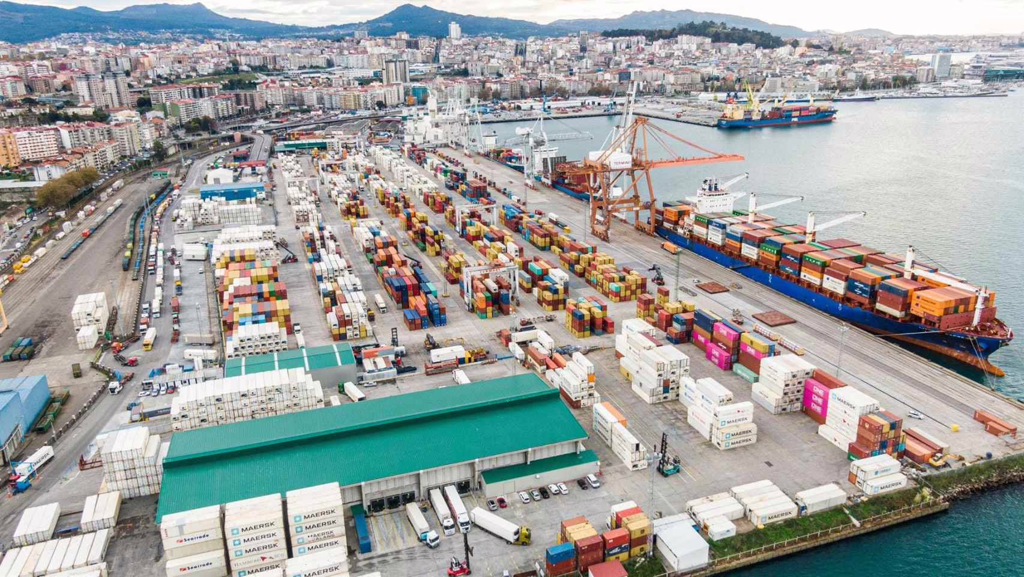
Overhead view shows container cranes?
Yes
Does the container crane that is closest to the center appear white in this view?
Yes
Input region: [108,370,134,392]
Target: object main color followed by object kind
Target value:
white truck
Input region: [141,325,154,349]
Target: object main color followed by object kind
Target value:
white vehicle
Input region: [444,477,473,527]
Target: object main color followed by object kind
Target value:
white truck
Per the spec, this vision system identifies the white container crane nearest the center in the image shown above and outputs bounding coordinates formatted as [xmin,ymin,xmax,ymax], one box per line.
[462,252,524,312]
